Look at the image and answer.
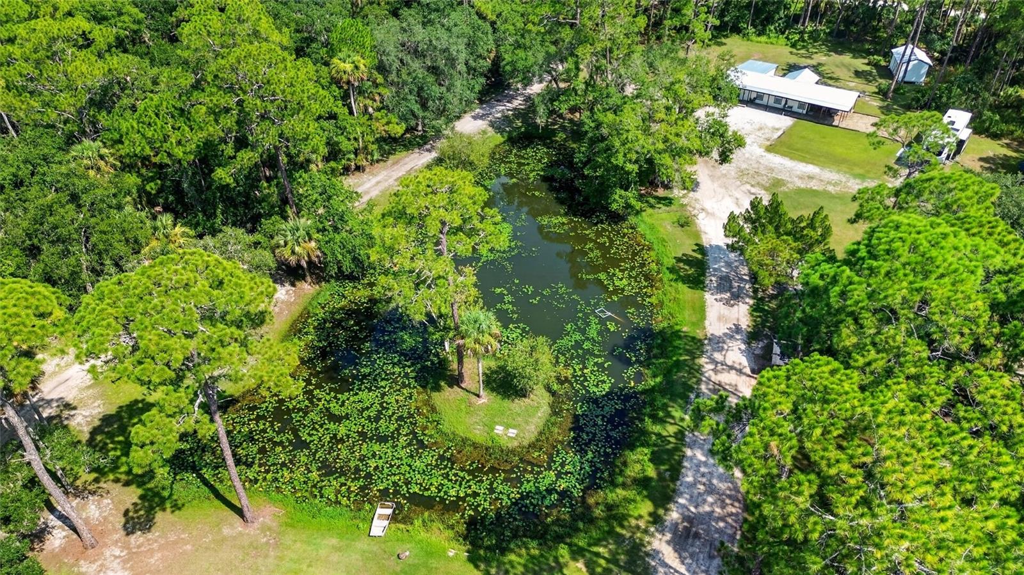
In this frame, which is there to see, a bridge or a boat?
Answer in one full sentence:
Of the two, only a boat appears.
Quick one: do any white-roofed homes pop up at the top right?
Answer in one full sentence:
Yes, looking at the top right, one can make out a white-roofed home.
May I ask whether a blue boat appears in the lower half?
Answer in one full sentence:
No, I can find no blue boat in the lower half.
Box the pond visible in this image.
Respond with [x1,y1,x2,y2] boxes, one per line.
[191,129,660,546]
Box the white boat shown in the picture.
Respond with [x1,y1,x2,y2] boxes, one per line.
[369,499,393,536]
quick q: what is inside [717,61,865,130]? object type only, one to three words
house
